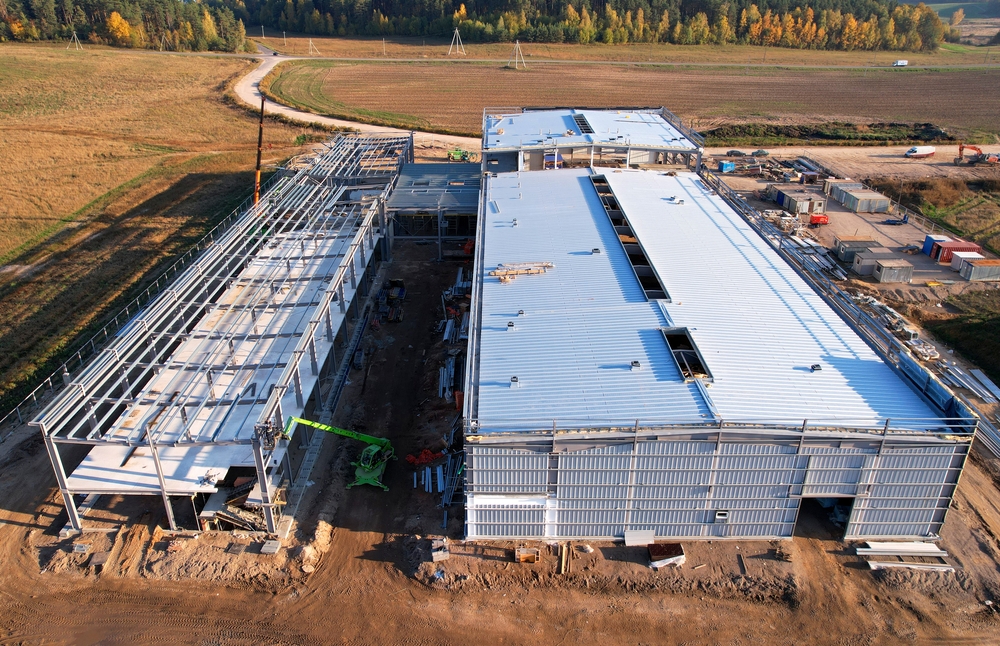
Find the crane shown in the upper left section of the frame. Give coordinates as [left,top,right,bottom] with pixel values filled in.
[234,94,269,240]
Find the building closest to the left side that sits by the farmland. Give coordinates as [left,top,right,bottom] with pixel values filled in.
[25,128,416,545]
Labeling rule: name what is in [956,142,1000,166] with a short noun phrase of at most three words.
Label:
work vehicle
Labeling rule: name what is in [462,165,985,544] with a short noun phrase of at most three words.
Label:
building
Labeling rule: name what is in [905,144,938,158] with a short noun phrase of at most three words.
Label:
vehicle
